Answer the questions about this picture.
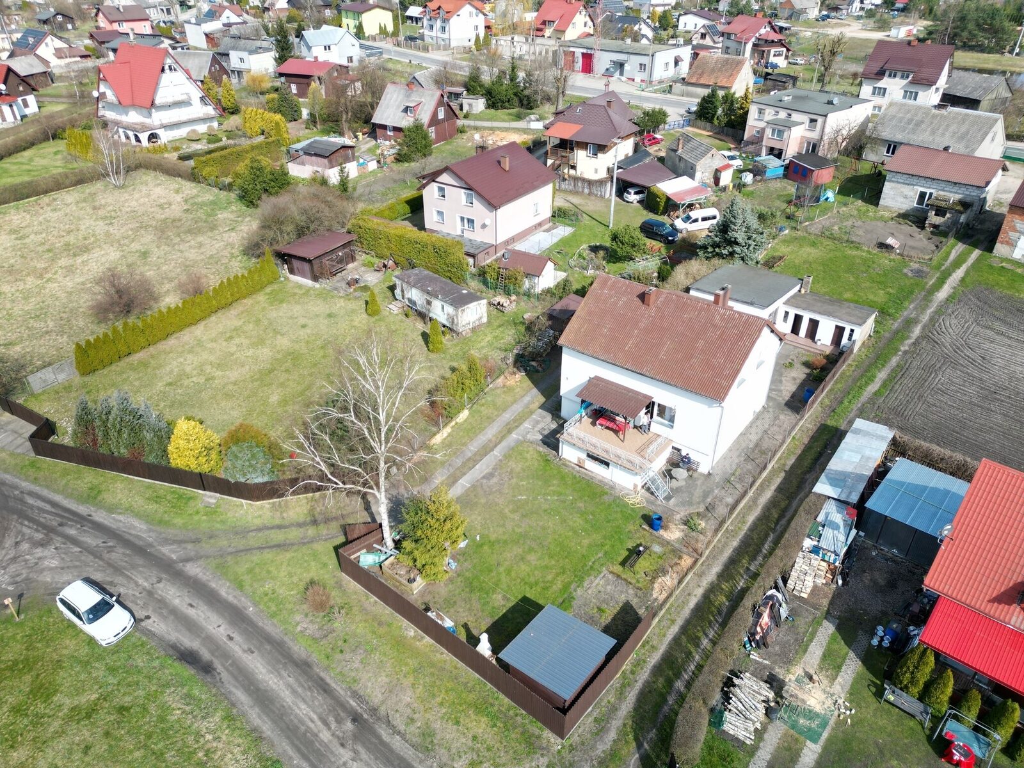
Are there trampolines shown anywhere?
Yes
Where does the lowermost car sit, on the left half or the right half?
left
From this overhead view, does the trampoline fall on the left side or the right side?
right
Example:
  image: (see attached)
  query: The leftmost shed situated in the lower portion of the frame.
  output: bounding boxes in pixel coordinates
[499,599,618,716]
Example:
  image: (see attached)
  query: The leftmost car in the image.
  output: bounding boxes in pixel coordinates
[53,572,137,642]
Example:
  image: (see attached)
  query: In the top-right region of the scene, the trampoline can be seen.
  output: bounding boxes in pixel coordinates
[796,183,824,209]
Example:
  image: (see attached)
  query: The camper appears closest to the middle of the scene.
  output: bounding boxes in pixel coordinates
[393,266,487,332]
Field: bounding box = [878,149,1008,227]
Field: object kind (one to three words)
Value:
house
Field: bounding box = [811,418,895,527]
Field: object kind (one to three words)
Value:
shed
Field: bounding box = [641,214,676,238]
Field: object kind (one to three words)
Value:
car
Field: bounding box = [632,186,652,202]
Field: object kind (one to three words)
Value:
car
